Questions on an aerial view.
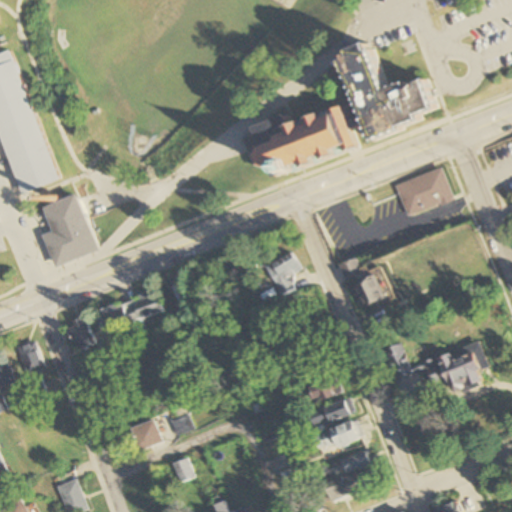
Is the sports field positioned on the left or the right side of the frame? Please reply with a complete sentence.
The sports field sits on the left side.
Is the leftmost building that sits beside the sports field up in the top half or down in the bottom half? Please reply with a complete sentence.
It is in the top half that the leftmost building that sits beside the sports field appears.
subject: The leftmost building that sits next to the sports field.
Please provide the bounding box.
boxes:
[0,50,63,188]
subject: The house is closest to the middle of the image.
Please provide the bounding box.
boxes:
[266,252,304,296]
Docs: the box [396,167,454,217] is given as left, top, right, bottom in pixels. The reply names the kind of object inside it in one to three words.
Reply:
building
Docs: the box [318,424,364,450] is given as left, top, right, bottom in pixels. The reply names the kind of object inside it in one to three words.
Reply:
house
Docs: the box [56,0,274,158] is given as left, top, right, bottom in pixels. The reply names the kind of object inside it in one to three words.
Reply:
sports field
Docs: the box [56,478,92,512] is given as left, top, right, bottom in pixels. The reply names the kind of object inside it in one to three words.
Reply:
house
